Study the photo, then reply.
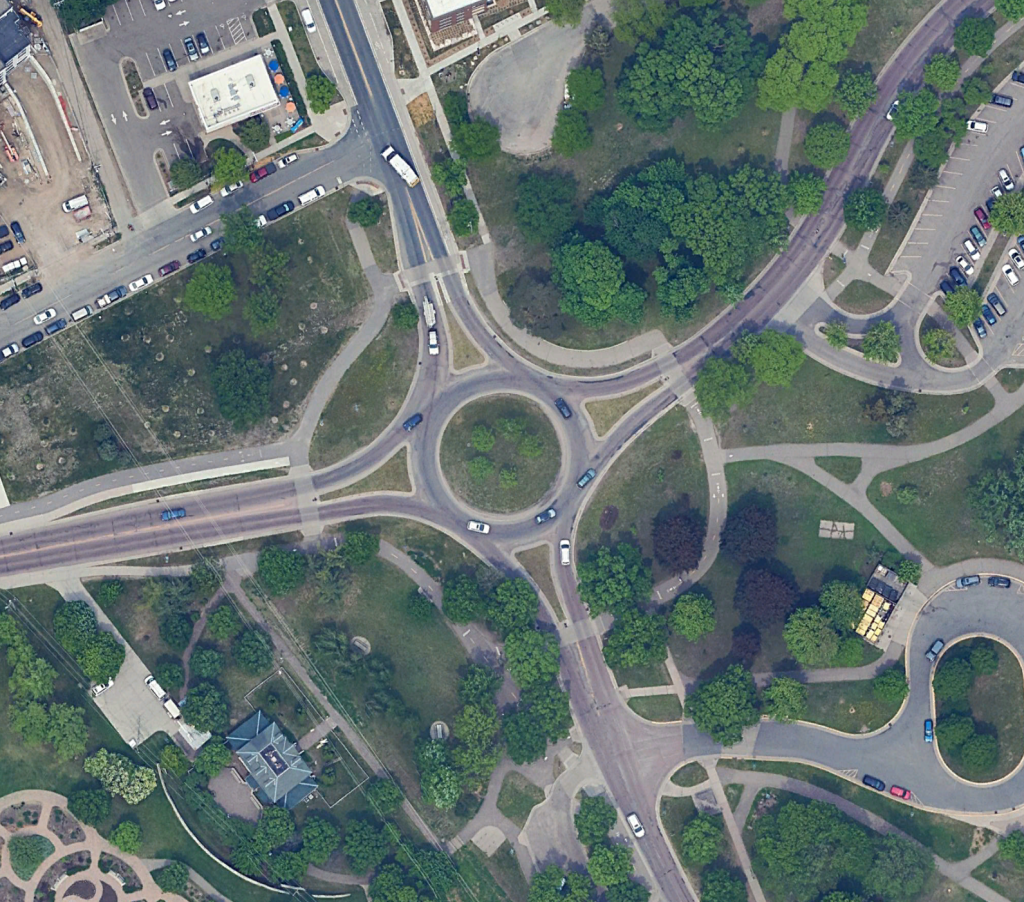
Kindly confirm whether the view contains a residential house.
Yes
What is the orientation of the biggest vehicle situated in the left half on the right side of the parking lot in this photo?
on a diagonal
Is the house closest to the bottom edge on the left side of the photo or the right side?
left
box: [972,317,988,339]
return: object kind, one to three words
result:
car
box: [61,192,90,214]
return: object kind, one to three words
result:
truck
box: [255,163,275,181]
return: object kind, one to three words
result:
vehicle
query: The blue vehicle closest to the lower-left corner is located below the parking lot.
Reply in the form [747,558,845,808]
[163,508,185,520]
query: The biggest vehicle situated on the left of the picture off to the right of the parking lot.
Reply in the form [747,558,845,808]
[378,146,422,190]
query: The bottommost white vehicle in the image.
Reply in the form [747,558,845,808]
[627,814,643,836]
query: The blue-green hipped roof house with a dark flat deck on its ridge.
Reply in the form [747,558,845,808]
[226,710,318,809]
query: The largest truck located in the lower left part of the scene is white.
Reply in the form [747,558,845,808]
[145,675,169,703]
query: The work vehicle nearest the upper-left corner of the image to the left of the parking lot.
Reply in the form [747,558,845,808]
[18,7,47,33]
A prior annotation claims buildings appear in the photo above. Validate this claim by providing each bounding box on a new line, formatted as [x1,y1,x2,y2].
[0,6,29,75]
[419,0,499,31]
[190,53,280,134]
[226,710,318,809]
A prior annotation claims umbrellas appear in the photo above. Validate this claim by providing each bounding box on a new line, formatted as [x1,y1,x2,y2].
[274,74,284,84]
[279,87,289,96]
[269,60,278,70]
[286,102,295,112]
